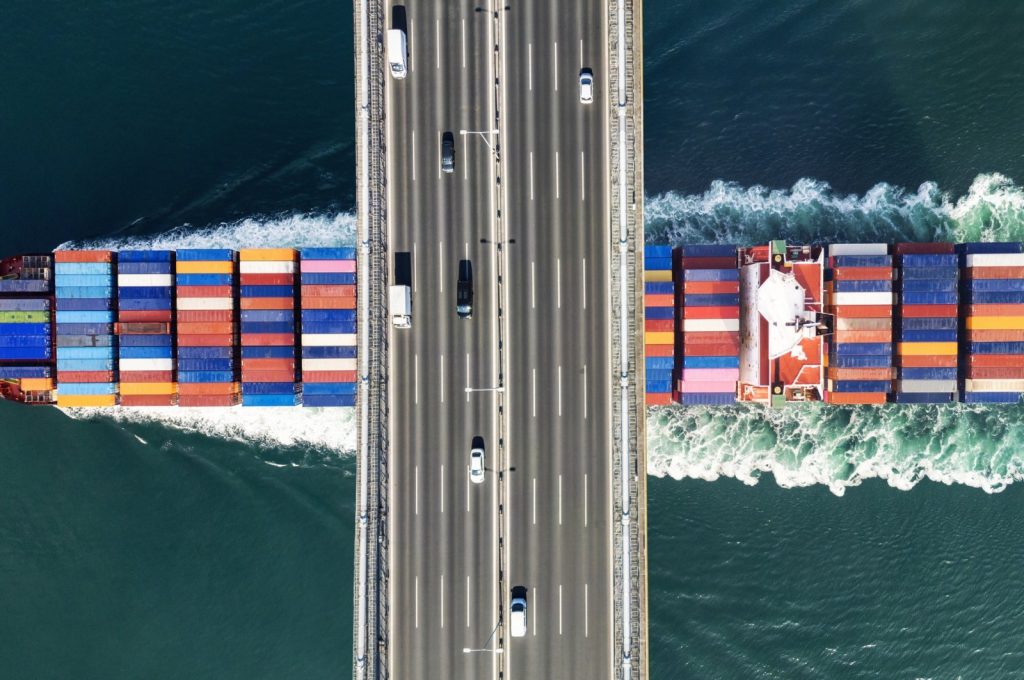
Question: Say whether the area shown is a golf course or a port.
port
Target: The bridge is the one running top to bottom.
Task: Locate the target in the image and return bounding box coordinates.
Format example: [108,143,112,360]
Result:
[356,0,647,680]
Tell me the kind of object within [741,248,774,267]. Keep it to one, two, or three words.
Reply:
boat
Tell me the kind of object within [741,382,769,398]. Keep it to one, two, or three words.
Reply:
boat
